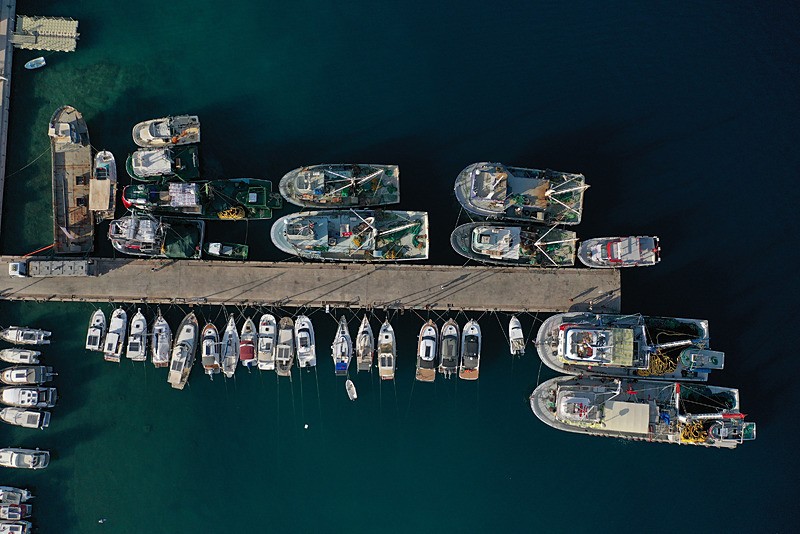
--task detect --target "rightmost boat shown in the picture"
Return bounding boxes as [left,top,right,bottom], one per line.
[705,418,763,445]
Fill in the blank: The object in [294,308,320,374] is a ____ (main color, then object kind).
white boat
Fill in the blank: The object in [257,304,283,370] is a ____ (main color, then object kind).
white boat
